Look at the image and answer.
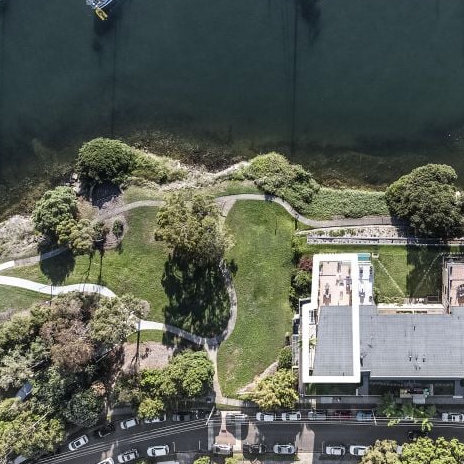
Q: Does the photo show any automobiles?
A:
Yes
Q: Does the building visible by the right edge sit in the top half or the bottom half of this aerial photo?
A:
bottom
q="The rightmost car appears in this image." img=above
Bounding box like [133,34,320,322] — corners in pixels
[440,411,464,424]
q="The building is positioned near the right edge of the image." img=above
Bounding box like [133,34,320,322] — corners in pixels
[300,252,464,395]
